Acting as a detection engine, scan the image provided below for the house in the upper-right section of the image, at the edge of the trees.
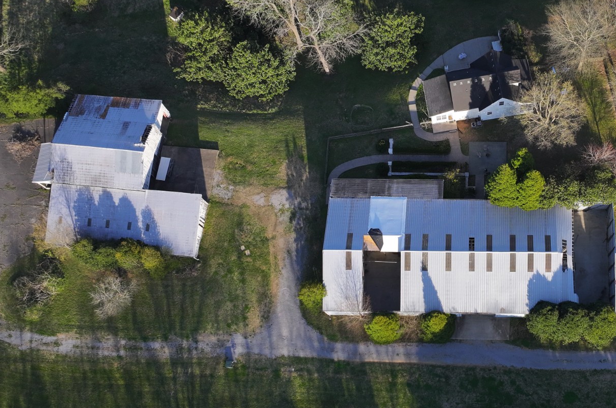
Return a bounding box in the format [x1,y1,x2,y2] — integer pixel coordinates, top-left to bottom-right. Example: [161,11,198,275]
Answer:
[422,47,536,136]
